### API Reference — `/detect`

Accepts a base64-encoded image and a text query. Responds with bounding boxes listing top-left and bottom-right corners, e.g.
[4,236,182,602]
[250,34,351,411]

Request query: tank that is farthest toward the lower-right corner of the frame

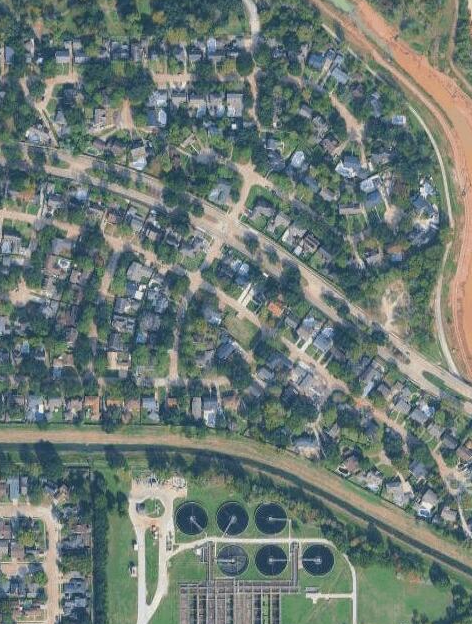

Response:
[301,544,334,577]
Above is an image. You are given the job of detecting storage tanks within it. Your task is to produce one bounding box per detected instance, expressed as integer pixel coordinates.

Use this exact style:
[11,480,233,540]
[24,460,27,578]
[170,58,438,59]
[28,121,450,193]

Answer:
[255,501,292,534]
[176,501,208,534]
[255,544,292,577]
[214,544,249,577]
[217,501,249,535]
[301,544,334,577]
